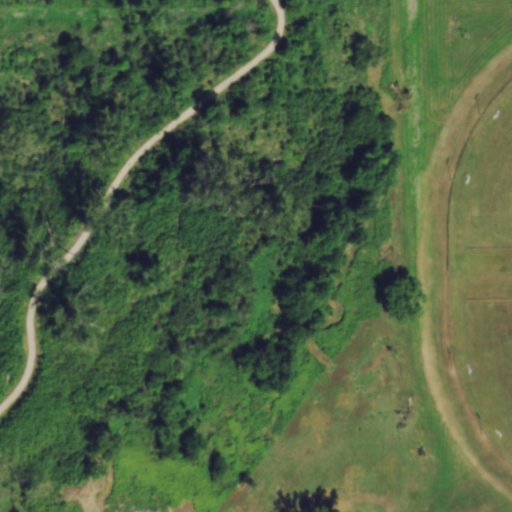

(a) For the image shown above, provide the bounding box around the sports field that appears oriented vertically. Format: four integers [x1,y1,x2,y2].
[446,81,512,468]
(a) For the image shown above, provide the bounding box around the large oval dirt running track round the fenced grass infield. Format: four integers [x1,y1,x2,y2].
[420,46,512,501]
